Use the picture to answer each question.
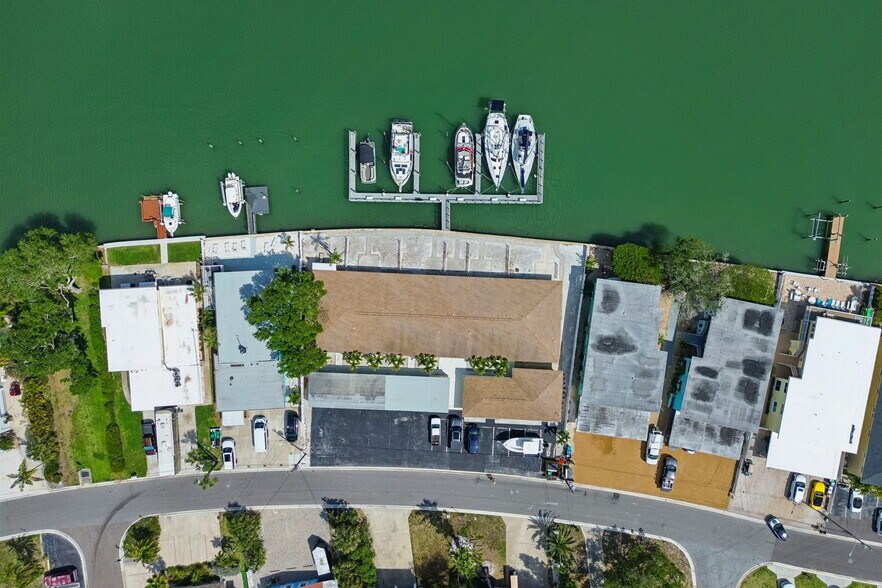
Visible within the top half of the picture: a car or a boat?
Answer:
boat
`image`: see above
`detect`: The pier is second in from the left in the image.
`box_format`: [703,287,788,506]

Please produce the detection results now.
[243,186,270,235]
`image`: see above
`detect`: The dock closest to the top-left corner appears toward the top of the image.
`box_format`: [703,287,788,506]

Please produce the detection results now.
[137,195,167,239]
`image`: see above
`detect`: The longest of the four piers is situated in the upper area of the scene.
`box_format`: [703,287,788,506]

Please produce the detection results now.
[348,129,546,231]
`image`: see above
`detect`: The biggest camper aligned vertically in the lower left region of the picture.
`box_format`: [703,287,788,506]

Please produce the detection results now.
[156,406,182,475]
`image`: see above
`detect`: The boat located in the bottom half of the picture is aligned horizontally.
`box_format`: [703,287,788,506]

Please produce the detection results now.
[500,437,548,455]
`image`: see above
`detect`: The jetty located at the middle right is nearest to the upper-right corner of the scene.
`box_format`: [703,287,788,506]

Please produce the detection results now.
[821,213,854,277]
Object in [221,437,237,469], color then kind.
white car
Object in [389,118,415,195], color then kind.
white boat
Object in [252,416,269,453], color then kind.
white vehicle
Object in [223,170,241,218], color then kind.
white boat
